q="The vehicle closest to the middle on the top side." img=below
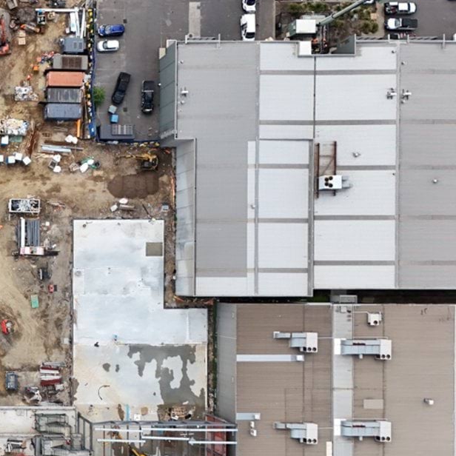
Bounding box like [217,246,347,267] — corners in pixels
[113,153,162,171]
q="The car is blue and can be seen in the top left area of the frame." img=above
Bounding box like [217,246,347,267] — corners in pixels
[99,23,124,37]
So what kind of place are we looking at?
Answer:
industrial area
